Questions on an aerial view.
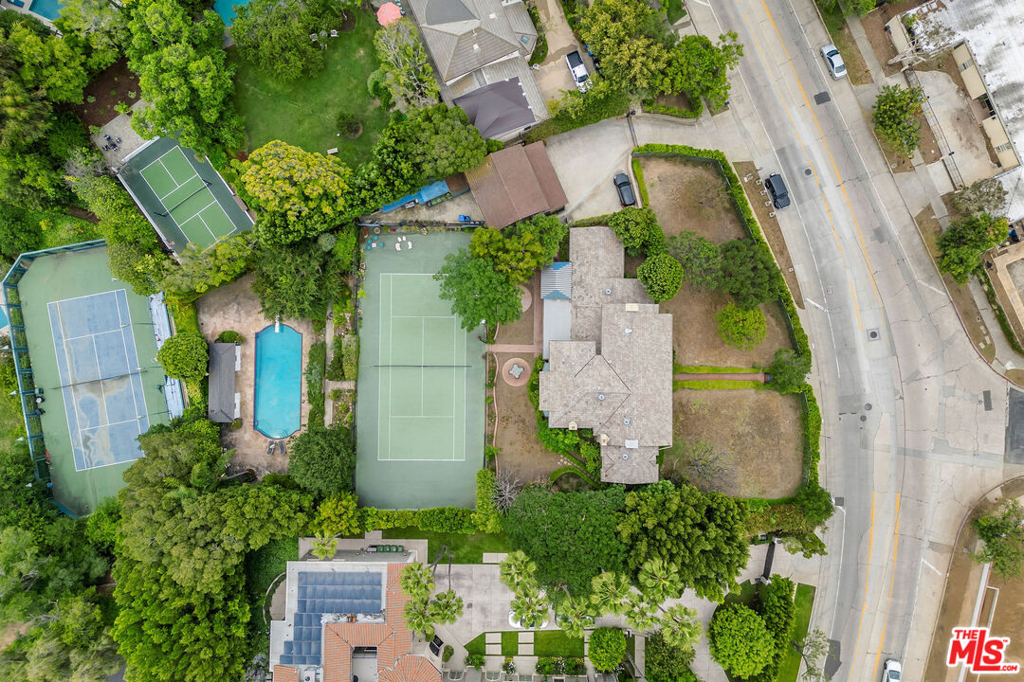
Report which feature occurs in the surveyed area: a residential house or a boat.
residential house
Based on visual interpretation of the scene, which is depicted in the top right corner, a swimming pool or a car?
car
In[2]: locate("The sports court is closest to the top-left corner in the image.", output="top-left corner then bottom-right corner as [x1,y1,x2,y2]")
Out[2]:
[120,129,254,269]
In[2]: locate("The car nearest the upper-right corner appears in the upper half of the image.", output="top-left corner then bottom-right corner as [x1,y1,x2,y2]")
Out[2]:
[818,42,847,82]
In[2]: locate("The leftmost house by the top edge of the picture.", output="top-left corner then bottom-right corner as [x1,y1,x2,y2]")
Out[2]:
[409,0,553,146]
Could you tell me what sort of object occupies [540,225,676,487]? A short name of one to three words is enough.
house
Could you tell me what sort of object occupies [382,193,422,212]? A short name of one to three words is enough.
shed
